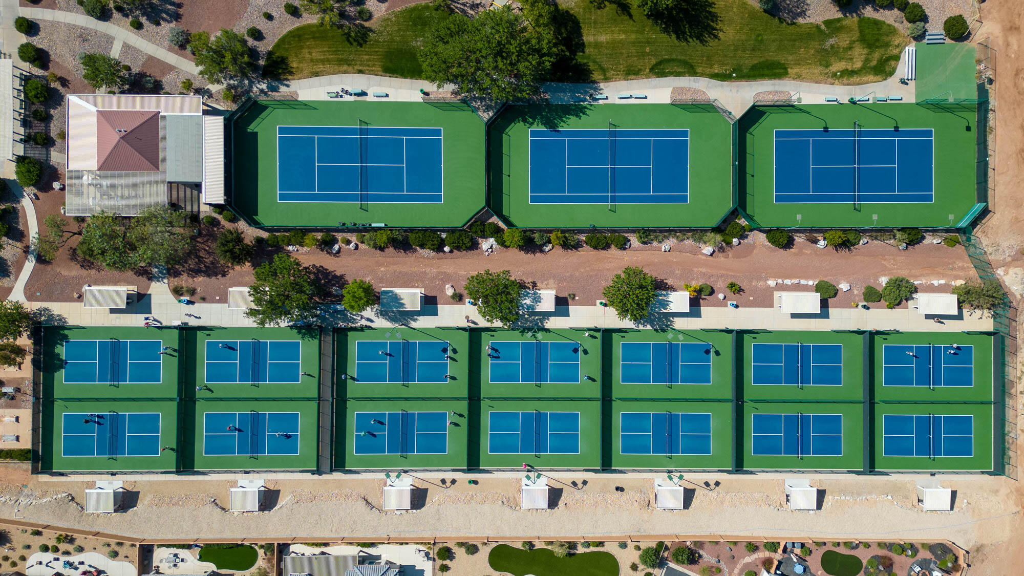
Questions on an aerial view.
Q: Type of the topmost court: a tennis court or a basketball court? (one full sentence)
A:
I'd say the topmost court is a basketball court.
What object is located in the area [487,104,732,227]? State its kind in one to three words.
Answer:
tennis court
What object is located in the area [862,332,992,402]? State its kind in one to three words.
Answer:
sports court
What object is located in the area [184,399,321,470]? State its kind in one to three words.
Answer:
sports court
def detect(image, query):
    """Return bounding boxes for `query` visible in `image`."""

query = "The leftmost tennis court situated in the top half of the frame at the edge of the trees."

[234,100,487,227]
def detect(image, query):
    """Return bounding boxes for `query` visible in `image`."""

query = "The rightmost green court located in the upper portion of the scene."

[916,42,976,104]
